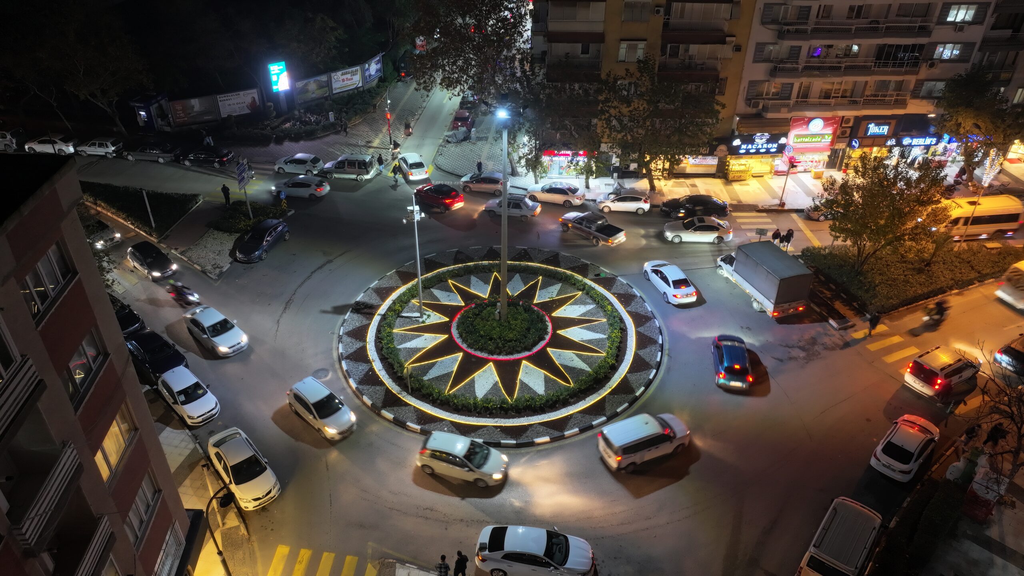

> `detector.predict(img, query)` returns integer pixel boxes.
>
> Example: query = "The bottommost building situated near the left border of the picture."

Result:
[0,157,213,576]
